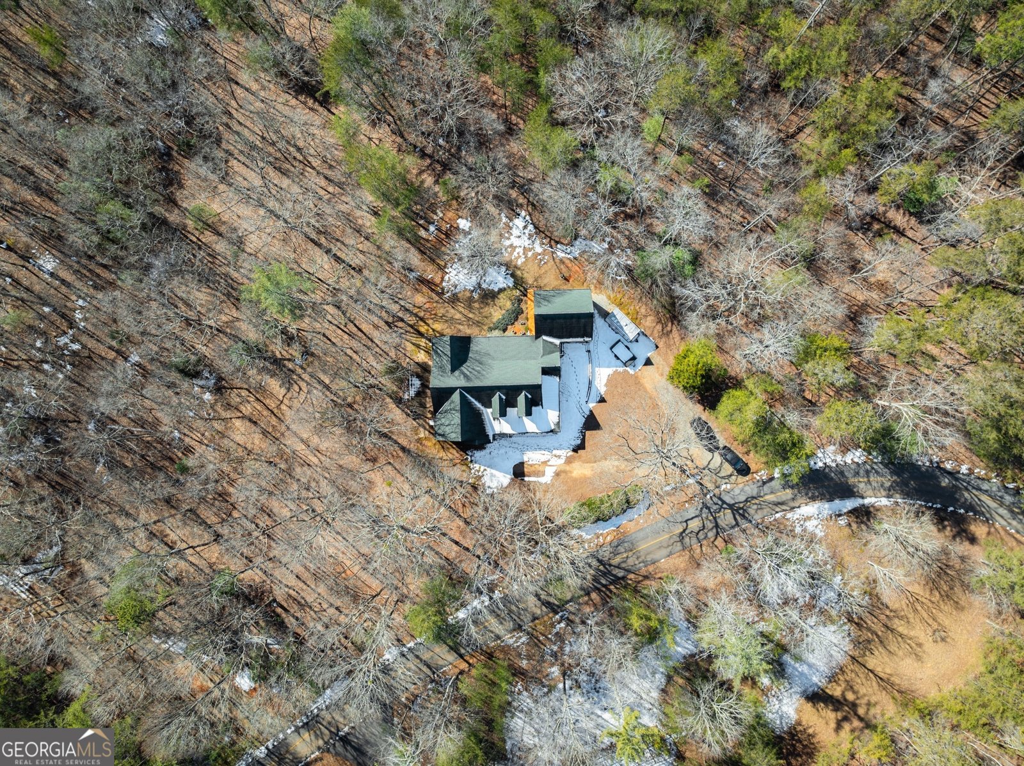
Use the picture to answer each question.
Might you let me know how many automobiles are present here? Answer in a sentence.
The picture shows 2 automobiles.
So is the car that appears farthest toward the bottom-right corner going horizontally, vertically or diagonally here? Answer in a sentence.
The car that appears farthest toward the bottom-right corner is oriented diagonally.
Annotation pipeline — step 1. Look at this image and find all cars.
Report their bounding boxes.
[692,418,721,454]
[721,445,752,479]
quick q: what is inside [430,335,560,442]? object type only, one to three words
house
